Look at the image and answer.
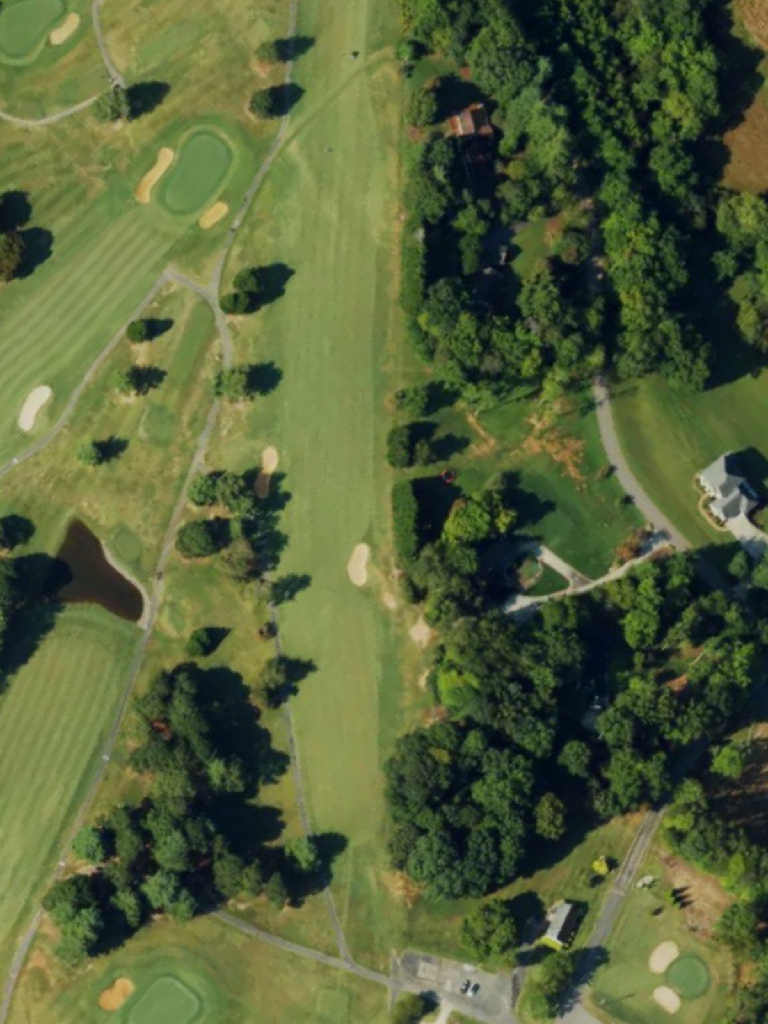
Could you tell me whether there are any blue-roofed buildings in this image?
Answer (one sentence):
No, the scene contains no blue-roofed building.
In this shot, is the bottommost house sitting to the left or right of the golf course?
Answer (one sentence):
The golf course has the bottommost house on its right side.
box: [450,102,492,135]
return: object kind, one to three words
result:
house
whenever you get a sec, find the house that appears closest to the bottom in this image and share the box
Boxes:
[544,900,580,949]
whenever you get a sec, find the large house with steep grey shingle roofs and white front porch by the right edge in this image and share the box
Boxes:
[696,450,762,521]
